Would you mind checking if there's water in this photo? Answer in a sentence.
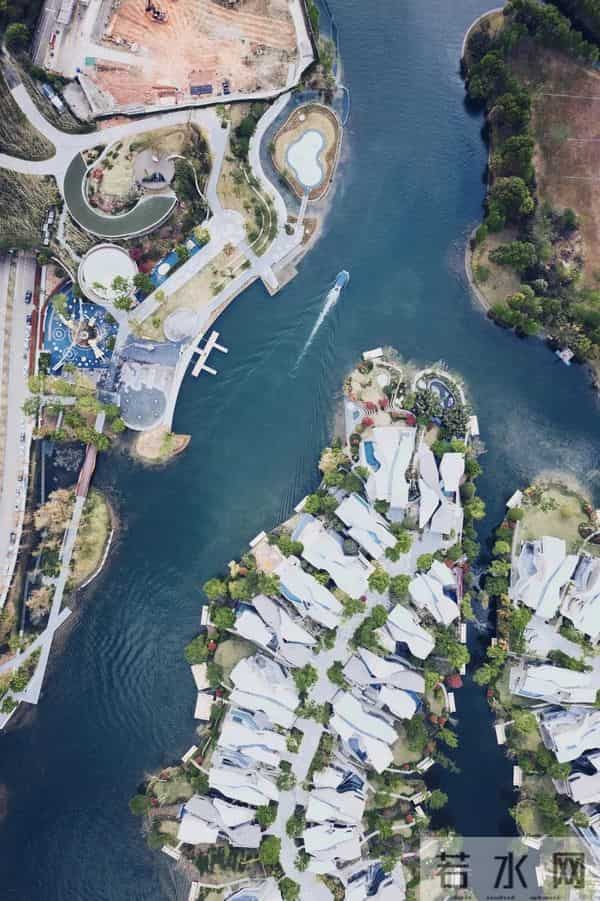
Yes, there's water in this view.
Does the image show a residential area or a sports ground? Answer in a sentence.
It's a residential area.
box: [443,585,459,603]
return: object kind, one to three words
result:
swimming pool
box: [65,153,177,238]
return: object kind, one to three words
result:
building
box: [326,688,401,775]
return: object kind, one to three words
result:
house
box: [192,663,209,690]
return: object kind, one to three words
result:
pier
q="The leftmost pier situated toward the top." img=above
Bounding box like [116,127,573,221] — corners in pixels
[193,331,228,377]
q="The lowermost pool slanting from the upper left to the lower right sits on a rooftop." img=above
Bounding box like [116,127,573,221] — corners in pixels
[348,737,367,762]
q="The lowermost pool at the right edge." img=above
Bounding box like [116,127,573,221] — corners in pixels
[569,759,598,774]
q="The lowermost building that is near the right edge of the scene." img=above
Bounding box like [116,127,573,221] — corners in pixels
[563,802,600,874]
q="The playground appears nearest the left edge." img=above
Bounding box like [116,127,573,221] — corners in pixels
[43,281,118,371]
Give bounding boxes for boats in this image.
[335,270,348,289]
